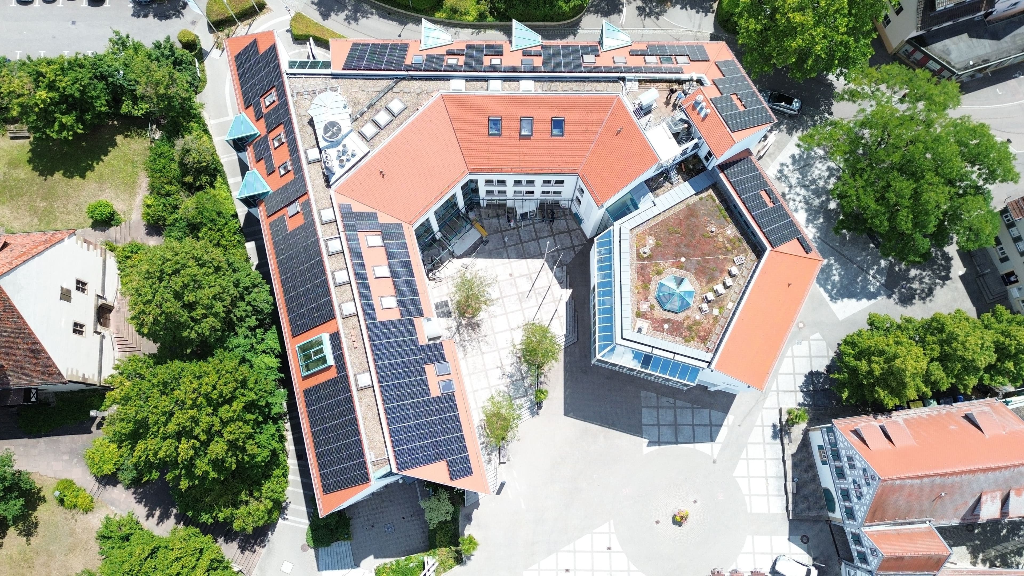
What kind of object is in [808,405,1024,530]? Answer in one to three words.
house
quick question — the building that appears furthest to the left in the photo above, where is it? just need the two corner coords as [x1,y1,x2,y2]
[0,229,116,408]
